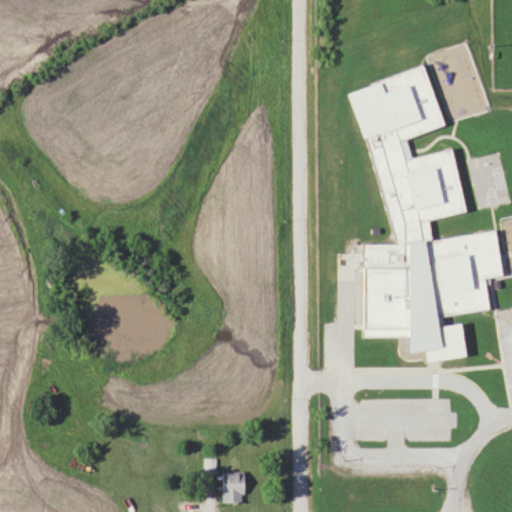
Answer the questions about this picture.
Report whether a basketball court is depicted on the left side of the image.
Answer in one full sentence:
No, there is no basketball court on the left side of the image.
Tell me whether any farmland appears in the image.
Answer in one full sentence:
Yes, there is farmland in the image.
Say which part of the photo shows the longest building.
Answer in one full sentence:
Look in the right portion of the view to spot the longest building.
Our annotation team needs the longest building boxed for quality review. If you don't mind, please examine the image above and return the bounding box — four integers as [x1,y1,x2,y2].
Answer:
[348,64,504,364]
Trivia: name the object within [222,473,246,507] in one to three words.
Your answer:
house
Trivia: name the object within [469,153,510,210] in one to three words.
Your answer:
basketball court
